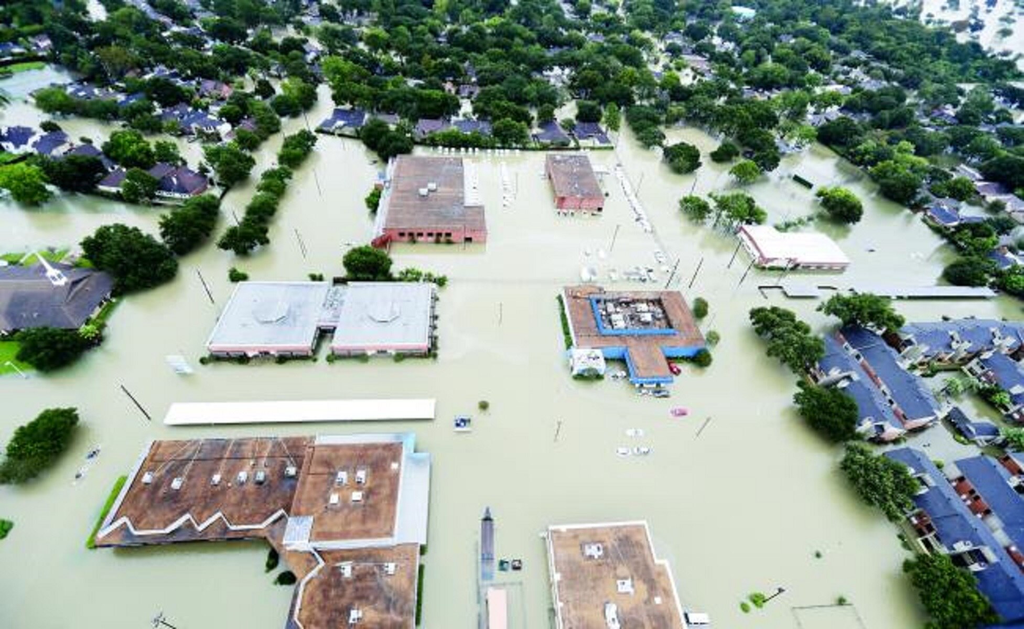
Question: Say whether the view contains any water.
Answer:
Yes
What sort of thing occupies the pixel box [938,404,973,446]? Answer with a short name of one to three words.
house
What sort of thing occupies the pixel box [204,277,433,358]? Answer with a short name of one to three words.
building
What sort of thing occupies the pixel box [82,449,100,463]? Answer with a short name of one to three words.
car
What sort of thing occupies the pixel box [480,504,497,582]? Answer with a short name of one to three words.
trailer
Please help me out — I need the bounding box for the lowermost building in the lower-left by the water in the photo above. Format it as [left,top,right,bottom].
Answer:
[86,429,431,629]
